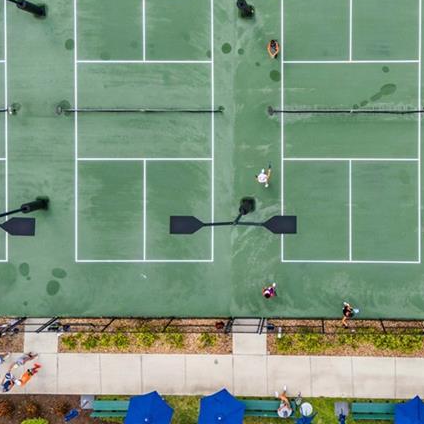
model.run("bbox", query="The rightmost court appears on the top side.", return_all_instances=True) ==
[282,0,422,263]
